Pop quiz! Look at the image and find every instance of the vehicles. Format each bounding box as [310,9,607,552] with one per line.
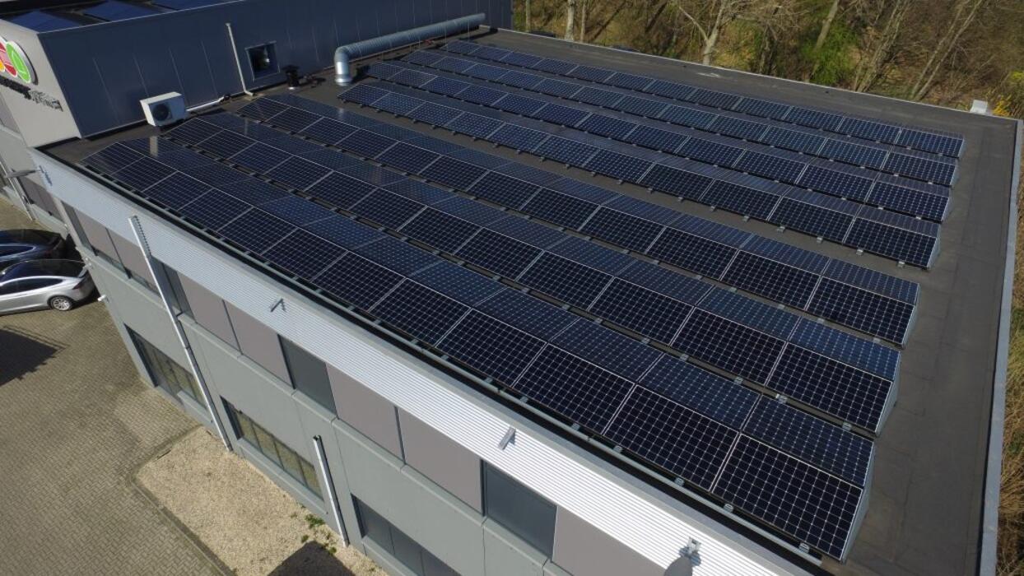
[0,259,95,315]
[0,227,71,266]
